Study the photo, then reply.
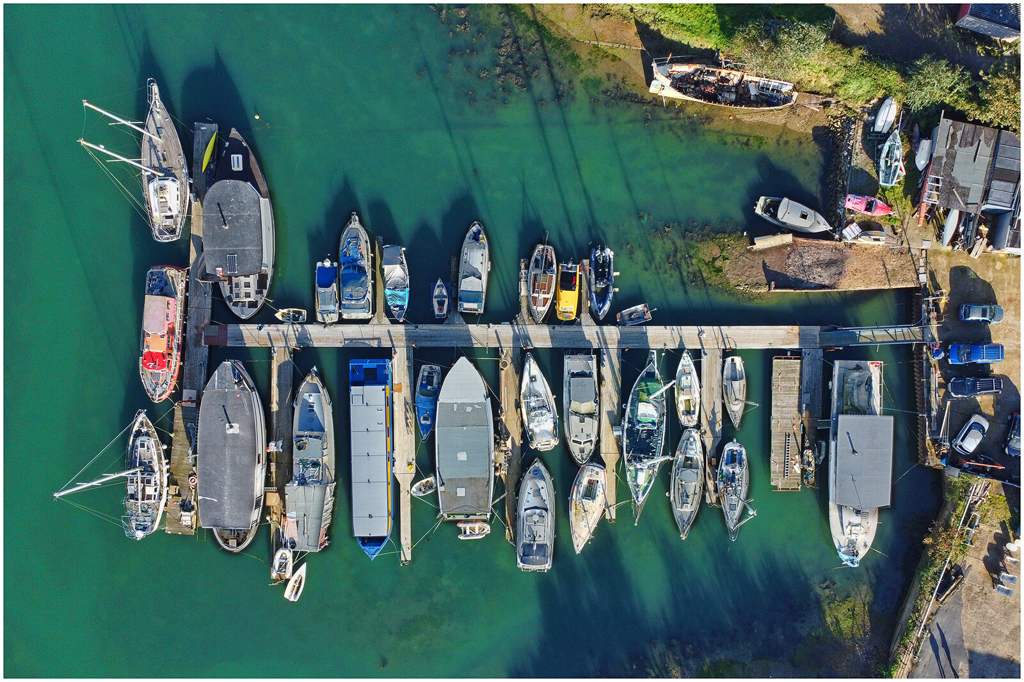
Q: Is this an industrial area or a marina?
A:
marina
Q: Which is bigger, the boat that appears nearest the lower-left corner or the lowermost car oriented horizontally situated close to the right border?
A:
the boat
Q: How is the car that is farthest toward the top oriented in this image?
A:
from left to right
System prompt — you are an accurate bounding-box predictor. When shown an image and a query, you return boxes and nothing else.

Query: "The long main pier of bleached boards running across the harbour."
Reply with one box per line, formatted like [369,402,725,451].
[227,325,801,348]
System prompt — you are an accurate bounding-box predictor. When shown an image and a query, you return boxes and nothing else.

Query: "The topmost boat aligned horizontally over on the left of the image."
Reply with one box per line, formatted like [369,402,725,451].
[274,309,307,322]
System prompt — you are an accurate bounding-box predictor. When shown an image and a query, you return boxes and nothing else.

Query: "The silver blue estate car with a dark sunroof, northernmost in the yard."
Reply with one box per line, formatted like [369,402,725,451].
[955,301,1004,325]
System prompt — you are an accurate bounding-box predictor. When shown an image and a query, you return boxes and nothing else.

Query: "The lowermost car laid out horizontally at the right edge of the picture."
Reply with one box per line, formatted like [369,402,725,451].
[945,374,1003,399]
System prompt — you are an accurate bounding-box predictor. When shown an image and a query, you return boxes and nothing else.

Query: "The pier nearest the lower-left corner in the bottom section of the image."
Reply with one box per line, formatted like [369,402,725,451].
[166,407,200,533]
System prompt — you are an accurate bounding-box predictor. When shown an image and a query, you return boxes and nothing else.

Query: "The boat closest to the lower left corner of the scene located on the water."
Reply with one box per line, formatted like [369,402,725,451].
[51,407,174,543]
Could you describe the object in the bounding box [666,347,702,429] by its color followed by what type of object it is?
white boat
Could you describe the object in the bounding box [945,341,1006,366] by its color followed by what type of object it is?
blue truck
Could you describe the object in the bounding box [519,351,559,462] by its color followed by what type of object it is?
white boat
